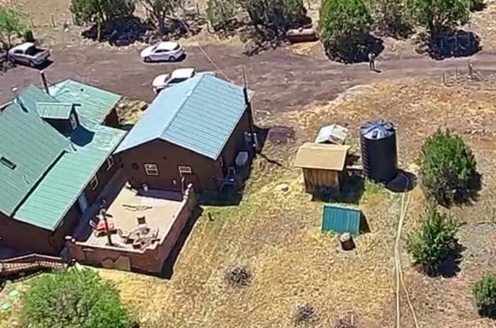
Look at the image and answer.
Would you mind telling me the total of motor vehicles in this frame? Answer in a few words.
3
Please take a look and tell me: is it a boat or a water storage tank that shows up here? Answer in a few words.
water storage tank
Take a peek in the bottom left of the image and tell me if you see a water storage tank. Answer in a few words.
No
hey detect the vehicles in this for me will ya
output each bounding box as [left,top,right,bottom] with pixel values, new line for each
[5,45,46,68]
[138,40,181,61]
[156,64,214,92]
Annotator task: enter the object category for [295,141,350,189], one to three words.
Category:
shed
